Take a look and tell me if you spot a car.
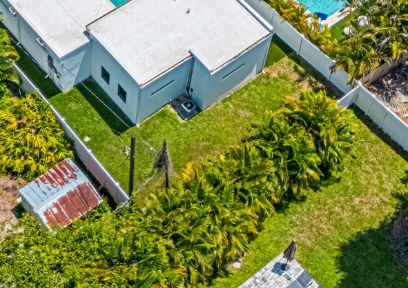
No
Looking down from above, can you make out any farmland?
No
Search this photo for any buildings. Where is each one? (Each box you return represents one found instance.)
[0,0,273,128]
[19,158,104,240]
